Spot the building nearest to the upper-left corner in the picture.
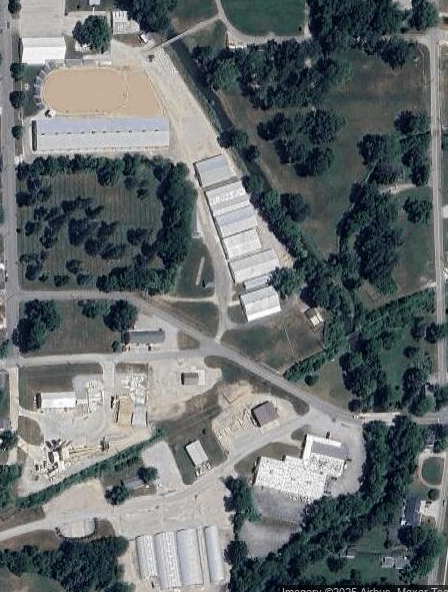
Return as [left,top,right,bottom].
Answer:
[21,38,64,63]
